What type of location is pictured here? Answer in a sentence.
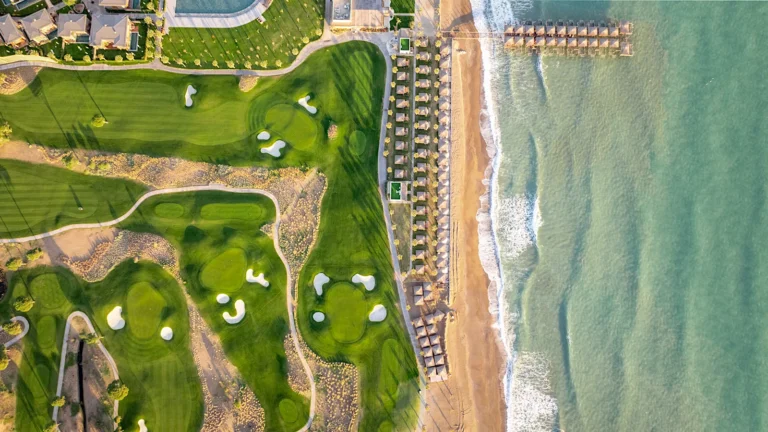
What you see here is a golf course.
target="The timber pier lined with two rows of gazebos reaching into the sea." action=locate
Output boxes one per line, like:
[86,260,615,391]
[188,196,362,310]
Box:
[439,19,634,56]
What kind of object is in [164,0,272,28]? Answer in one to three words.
swimming pool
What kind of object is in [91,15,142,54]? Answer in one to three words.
house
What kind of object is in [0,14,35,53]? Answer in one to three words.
house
